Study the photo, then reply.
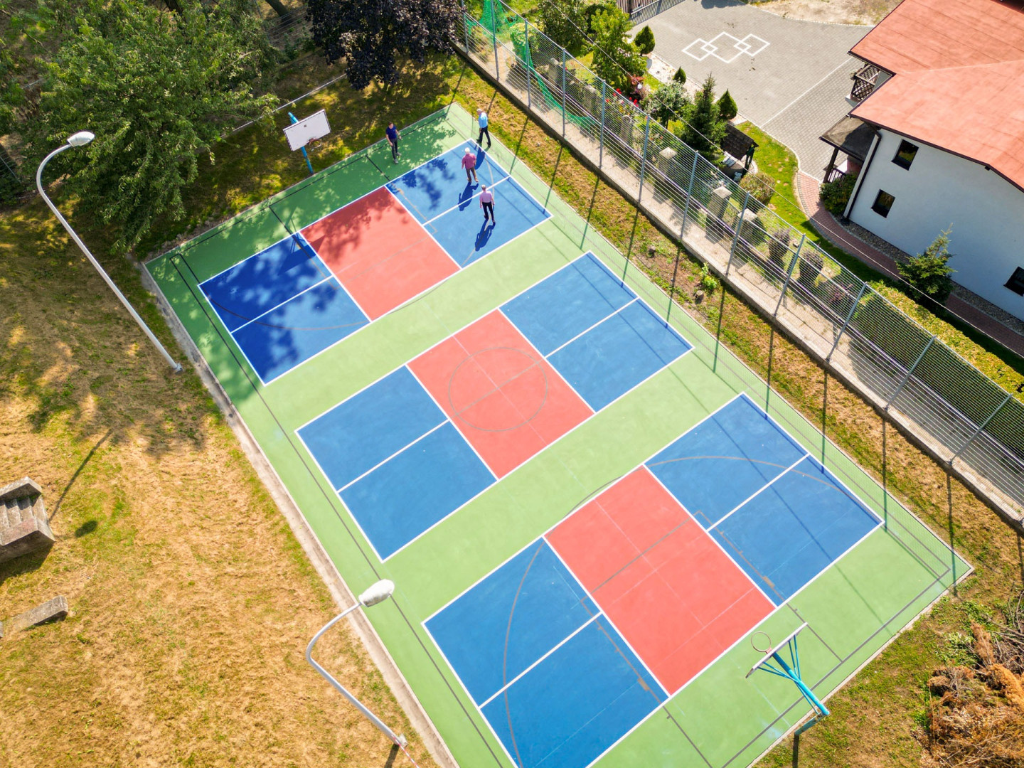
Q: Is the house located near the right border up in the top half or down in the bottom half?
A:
top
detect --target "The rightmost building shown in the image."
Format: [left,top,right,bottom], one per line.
[813,0,1024,324]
